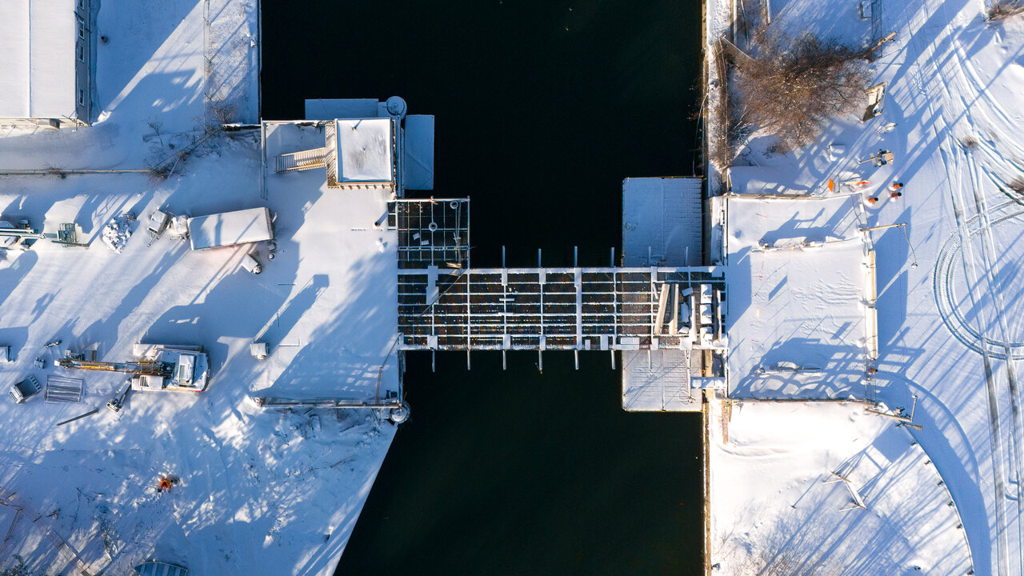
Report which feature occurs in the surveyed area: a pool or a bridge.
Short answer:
bridge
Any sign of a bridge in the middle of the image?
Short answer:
Yes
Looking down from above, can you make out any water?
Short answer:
Yes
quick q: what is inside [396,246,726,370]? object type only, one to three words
bridge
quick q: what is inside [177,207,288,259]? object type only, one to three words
truck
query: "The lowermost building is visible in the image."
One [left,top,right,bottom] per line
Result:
[271,118,396,189]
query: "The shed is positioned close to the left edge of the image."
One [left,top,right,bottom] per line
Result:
[0,0,92,149]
